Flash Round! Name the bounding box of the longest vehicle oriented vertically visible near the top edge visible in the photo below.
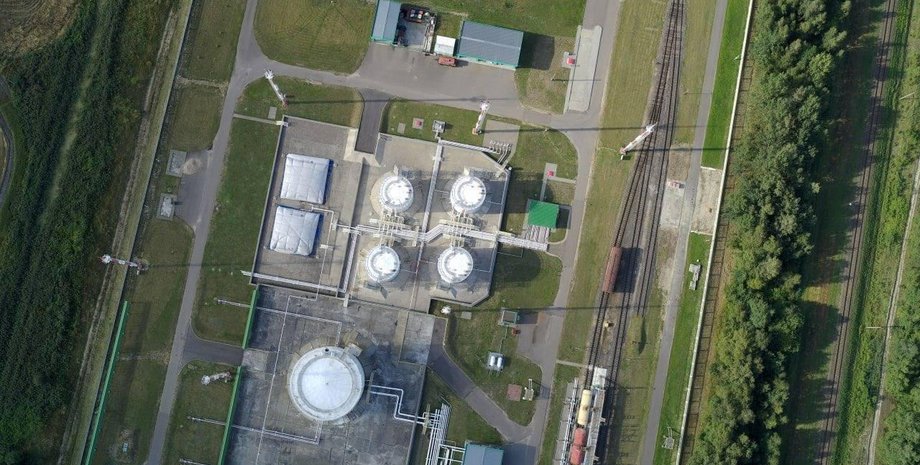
[423,16,437,51]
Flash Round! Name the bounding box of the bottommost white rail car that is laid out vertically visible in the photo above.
[578,388,593,426]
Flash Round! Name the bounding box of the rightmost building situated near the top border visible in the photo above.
[459,22,524,73]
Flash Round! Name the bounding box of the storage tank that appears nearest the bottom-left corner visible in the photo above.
[287,321,373,429]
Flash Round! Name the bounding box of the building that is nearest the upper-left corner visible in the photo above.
[372,0,402,46]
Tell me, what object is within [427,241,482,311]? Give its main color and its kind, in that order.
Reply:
white storage tank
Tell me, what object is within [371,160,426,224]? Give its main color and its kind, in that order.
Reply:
white storage tank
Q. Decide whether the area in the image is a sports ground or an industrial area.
industrial area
